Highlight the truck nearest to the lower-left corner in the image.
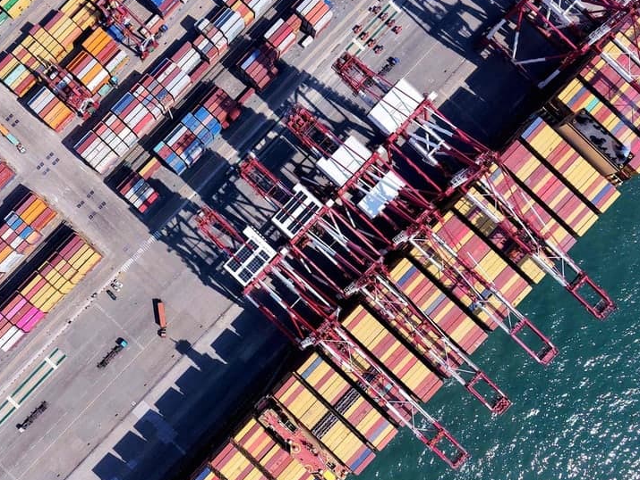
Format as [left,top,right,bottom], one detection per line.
[18,403,44,430]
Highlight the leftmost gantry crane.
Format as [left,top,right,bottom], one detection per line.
[34,56,107,132]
